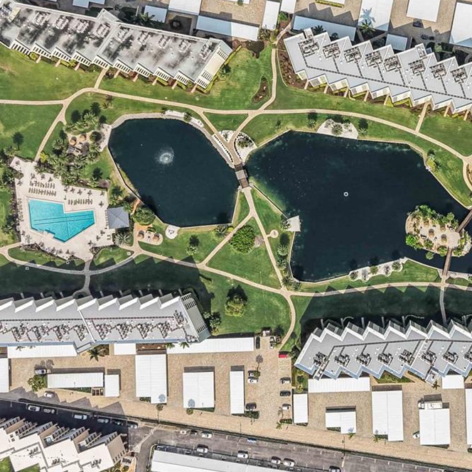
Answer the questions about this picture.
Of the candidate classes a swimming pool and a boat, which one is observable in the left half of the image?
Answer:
swimming pool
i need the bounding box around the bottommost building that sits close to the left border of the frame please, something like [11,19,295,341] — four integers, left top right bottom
[0,411,130,472]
